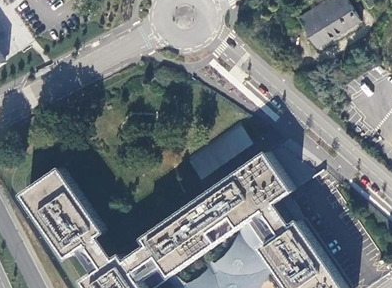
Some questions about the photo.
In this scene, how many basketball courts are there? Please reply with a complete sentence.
Not a single basketball court can be seen.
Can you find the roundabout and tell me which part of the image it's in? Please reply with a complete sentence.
You can find the roundabout in the top area of the picture.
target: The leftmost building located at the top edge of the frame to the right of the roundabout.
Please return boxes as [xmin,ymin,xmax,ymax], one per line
[300,0,363,50]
